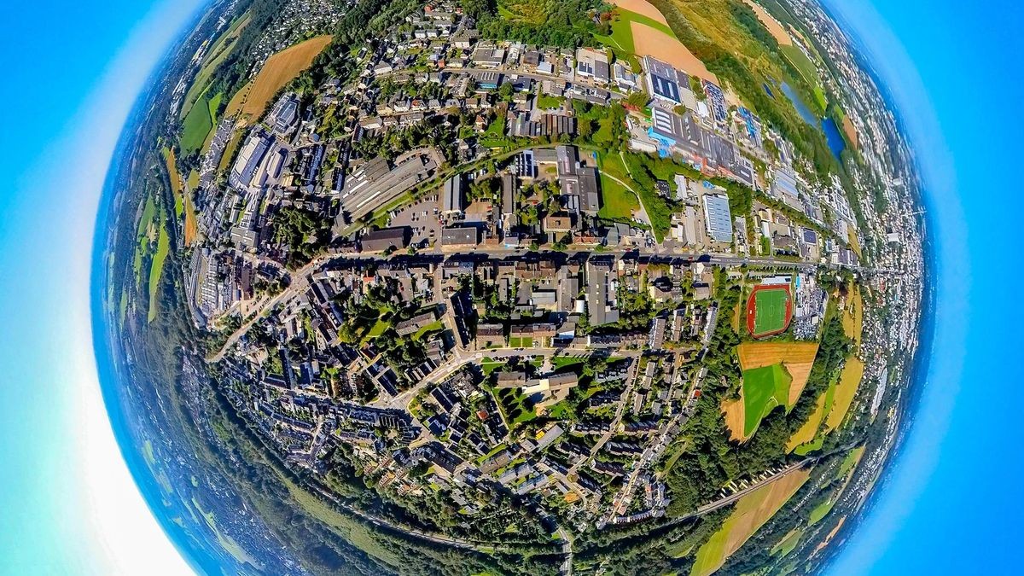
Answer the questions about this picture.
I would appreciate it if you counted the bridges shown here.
one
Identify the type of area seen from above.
residential area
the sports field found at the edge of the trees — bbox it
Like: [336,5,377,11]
[747,283,793,339]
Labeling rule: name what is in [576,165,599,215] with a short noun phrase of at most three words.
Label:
building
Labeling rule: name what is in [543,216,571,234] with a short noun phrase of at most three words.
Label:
house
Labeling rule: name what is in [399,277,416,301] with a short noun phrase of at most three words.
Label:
building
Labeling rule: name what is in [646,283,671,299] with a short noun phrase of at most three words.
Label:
house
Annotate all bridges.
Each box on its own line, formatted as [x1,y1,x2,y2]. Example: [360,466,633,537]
[693,444,862,516]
